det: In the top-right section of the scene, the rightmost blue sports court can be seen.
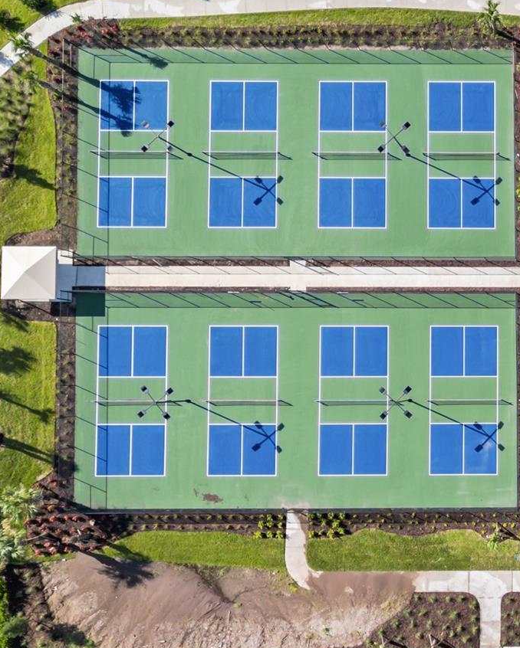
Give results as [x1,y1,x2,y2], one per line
[428,80,496,228]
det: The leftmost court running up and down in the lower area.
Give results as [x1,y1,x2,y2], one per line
[96,325,168,476]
